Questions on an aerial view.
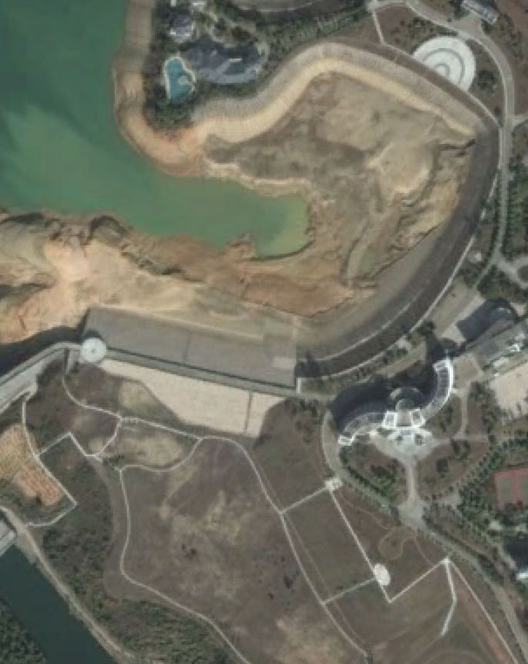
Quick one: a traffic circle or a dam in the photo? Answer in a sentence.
The one in the frame is a dam.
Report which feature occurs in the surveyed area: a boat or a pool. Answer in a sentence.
This aerial view contains a pool.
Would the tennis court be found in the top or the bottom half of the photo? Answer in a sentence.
It is in the bottom half that the tennis court appears.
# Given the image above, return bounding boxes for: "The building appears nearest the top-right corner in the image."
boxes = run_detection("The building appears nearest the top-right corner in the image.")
[463,0,501,25]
